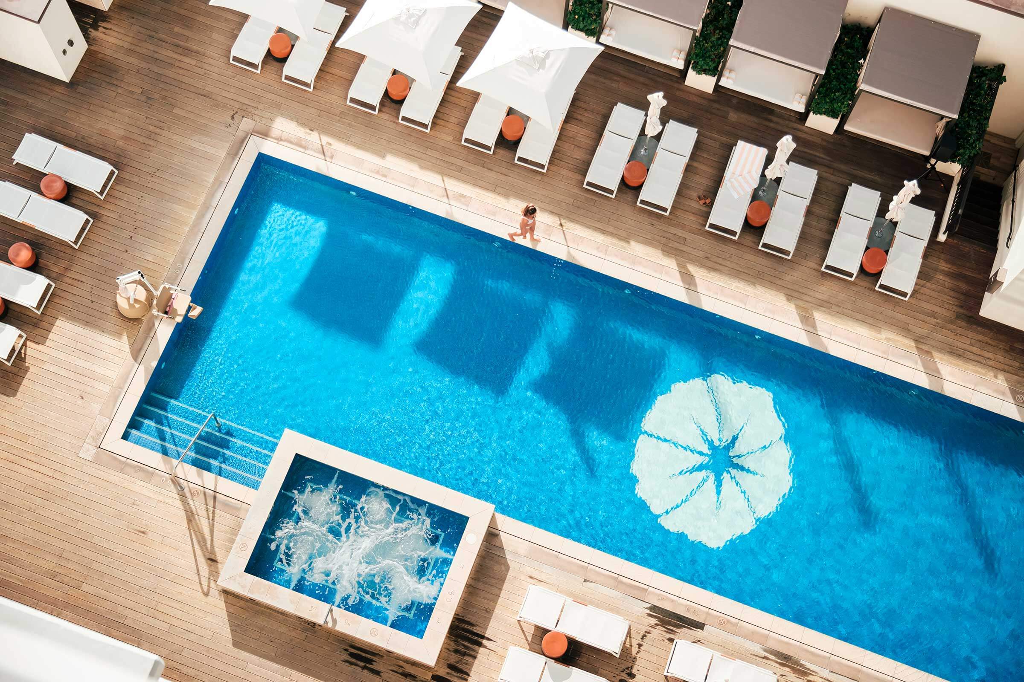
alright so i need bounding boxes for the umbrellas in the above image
[336,0,482,88]
[748,129,801,209]
[209,0,320,47]
[628,84,668,170]
[865,171,920,251]
[457,1,604,132]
